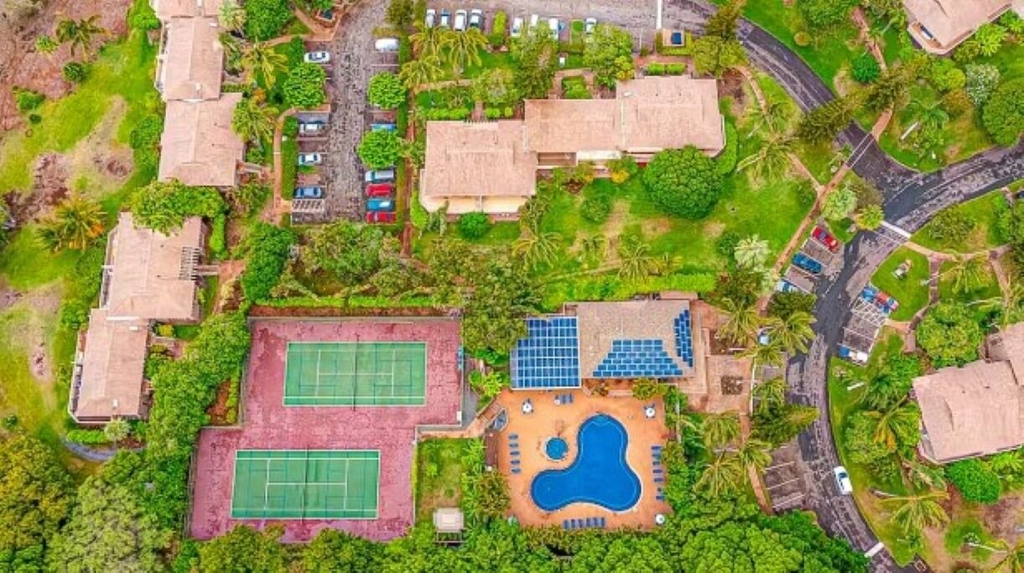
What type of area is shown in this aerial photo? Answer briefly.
residential area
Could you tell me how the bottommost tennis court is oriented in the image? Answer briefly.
from side to side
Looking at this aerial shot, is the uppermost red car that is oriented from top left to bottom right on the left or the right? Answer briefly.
right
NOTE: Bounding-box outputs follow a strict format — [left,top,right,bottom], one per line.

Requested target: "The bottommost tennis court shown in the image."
[231,446,380,523]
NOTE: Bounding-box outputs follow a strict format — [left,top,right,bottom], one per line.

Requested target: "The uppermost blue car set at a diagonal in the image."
[793,252,822,275]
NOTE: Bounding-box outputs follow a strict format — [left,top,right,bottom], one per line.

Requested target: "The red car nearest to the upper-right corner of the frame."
[813,226,839,251]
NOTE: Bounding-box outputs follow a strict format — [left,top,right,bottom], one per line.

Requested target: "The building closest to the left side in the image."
[68,309,157,426]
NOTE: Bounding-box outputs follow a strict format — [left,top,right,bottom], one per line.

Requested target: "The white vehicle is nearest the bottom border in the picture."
[833,466,851,494]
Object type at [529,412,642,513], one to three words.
swimming pool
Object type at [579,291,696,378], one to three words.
building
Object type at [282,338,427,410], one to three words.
tennis court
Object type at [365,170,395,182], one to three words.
vehicle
